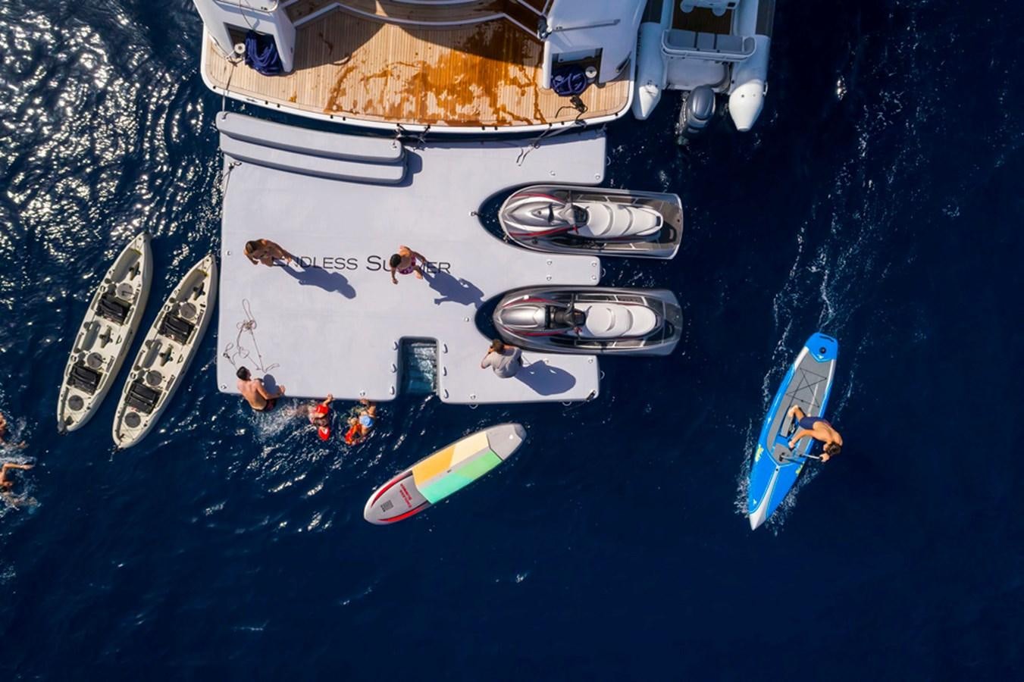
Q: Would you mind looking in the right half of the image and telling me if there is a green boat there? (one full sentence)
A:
No, I can find no green boat in the right half of the image.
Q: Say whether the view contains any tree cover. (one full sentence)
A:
No, tree cover can't be seen anywhere here.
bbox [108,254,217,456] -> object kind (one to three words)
boat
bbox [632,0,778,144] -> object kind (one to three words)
boat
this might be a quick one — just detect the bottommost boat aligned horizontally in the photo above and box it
[491,283,685,356]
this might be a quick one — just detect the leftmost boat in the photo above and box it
[51,233,151,440]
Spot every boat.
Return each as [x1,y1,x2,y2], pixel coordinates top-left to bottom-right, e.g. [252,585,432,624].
[108,254,217,456]
[51,233,151,440]
[496,186,685,259]
[194,0,646,136]
[632,0,778,144]
[491,283,685,356]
